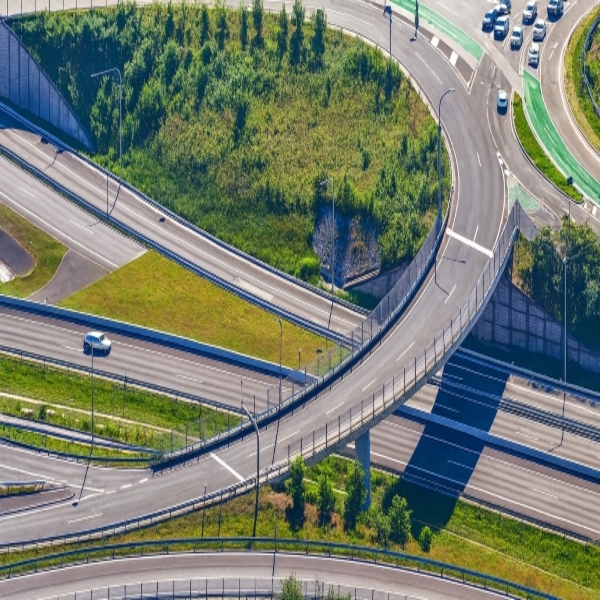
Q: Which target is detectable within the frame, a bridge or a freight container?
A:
bridge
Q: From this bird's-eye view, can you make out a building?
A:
No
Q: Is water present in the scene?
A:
No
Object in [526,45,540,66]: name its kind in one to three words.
car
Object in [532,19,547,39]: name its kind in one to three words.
car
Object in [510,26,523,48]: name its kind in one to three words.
vehicle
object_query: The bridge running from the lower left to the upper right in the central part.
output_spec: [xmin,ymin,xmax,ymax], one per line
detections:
[135,199,515,504]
